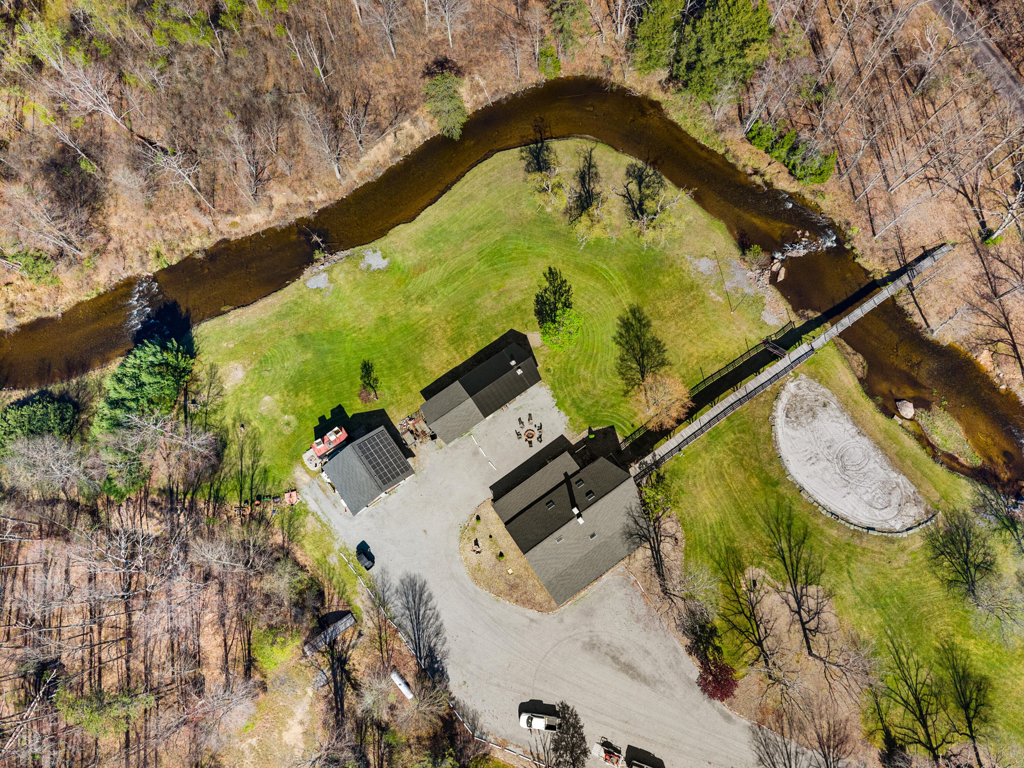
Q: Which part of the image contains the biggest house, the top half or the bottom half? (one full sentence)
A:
The bottom half of the photo is where the biggest house is.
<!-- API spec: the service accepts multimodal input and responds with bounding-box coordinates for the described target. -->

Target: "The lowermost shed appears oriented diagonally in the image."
[301,611,360,657]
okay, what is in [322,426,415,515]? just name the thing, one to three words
building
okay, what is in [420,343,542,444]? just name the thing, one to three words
building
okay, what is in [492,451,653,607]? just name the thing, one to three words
house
